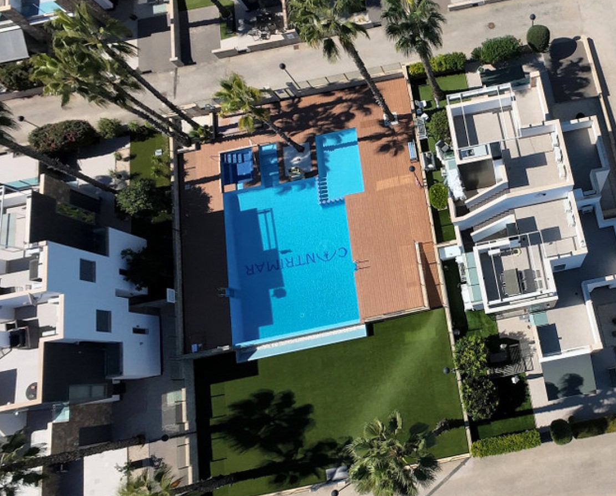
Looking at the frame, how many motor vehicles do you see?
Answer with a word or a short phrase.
none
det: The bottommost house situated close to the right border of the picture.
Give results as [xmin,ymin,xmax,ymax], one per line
[439,193,616,401]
